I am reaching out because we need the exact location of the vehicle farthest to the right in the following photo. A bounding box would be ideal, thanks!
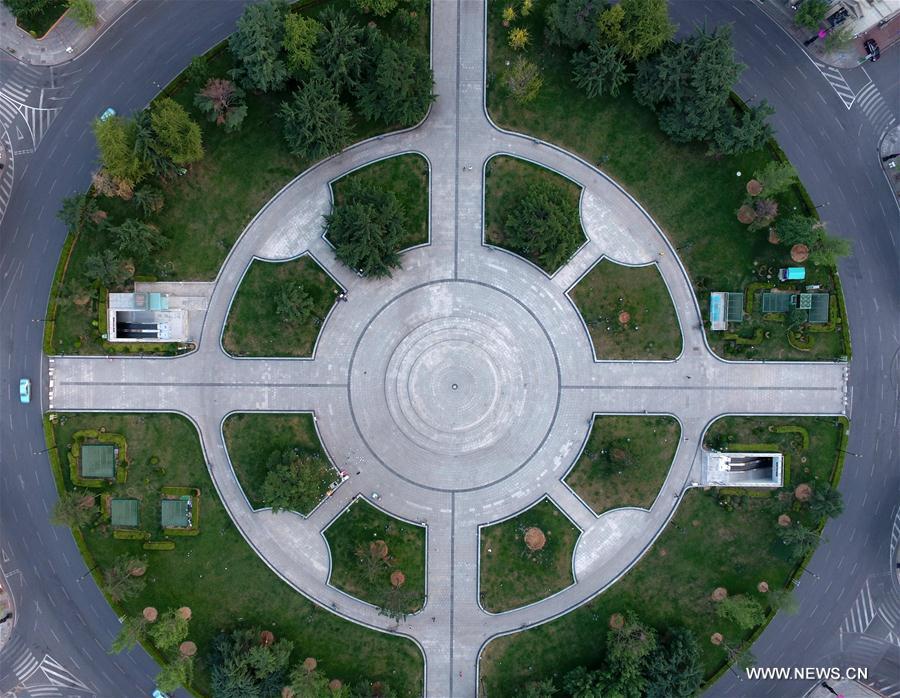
[865,35,880,60]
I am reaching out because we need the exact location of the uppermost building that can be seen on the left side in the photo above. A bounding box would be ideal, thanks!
[109,293,171,309]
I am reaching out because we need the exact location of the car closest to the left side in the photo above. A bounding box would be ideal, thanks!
[17,379,30,404]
